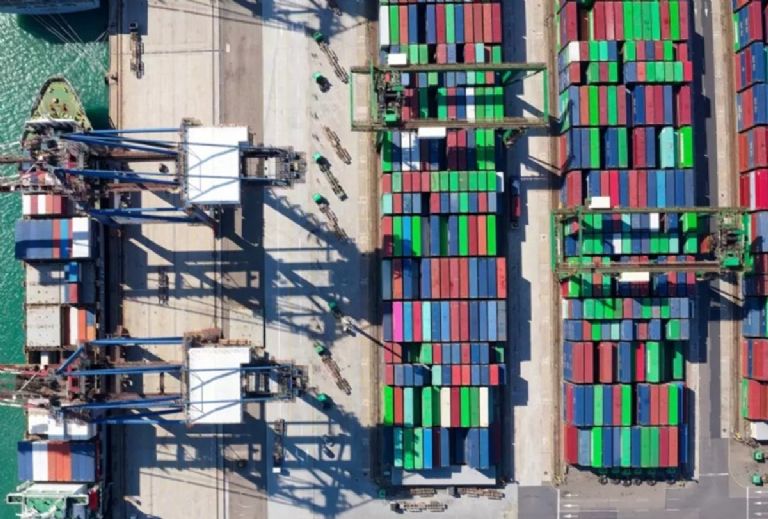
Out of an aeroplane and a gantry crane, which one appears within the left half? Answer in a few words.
gantry crane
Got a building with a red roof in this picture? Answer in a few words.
No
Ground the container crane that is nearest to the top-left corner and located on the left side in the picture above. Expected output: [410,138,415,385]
[0,123,310,242]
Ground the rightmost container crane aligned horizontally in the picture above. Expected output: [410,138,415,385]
[551,196,751,281]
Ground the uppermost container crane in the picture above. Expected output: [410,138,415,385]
[351,53,550,142]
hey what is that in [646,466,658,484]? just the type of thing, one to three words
vehicle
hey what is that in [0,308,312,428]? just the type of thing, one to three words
container crane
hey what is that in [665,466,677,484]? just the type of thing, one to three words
vehicle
